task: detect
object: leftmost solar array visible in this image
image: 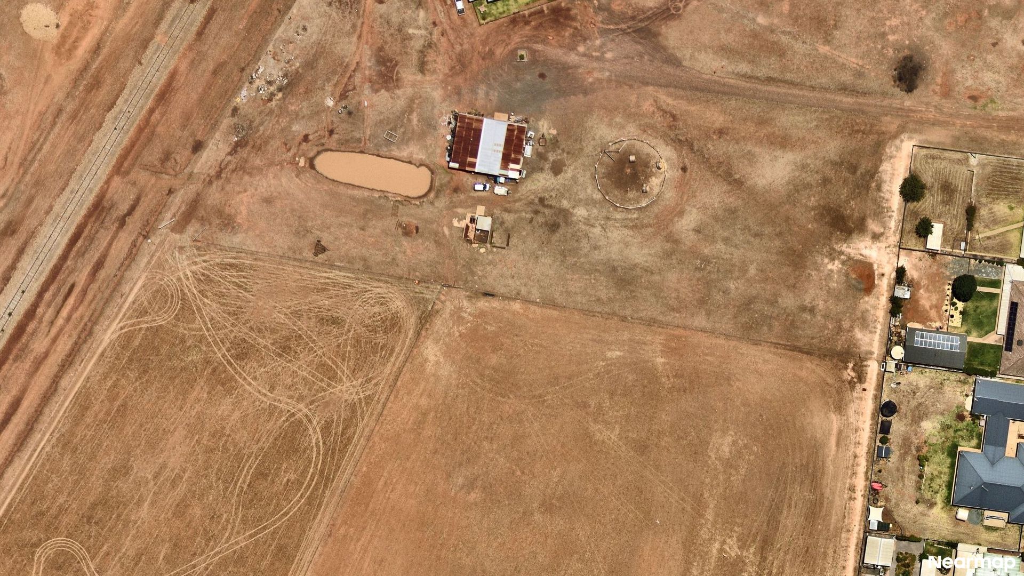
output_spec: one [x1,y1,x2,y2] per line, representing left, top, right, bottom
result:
[915,332,960,351]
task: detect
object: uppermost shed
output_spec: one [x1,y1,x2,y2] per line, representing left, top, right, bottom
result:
[449,113,527,179]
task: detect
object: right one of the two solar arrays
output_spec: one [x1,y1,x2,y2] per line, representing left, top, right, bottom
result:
[1005,302,1019,352]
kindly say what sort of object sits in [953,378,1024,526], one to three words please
house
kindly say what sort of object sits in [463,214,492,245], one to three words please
shed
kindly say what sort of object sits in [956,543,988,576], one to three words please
house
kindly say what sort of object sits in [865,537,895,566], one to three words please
shed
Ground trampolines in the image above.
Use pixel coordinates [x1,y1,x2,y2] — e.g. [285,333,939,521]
[881,401,897,417]
[880,421,892,435]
